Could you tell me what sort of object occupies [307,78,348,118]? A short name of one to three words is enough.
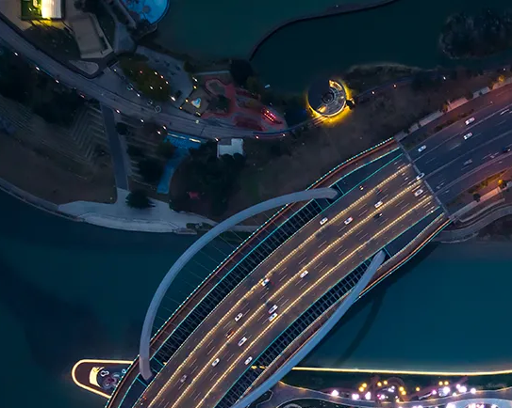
building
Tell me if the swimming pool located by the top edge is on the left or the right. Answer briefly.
left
